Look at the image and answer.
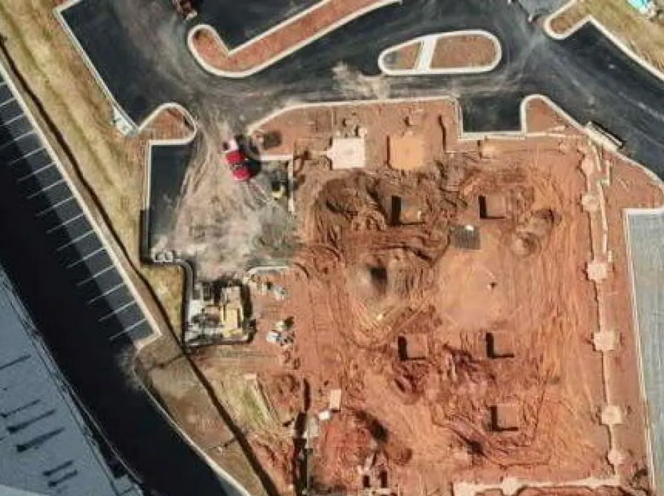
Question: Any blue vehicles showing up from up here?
No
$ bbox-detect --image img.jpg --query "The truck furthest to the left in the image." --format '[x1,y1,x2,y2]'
[173,0,198,24]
